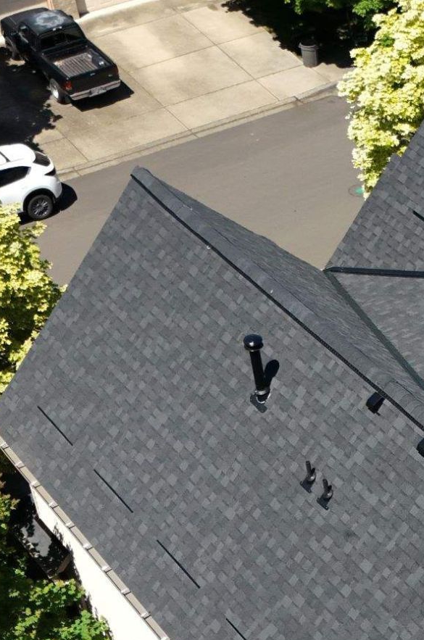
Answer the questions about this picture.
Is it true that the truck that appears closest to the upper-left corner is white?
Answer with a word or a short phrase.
No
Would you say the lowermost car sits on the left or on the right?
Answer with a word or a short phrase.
left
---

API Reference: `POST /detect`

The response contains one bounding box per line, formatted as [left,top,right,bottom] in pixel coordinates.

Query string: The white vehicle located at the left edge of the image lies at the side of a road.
[0,140,70,219]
